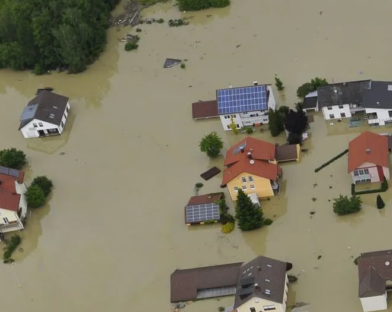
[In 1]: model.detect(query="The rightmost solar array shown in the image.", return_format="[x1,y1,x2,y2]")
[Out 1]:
[217,86,266,115]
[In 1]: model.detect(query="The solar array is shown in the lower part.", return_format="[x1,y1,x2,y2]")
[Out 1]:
[186,202,219,223]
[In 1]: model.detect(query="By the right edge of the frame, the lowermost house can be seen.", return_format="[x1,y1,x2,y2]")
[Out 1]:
[359,250,392,311]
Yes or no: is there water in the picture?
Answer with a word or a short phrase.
Yes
